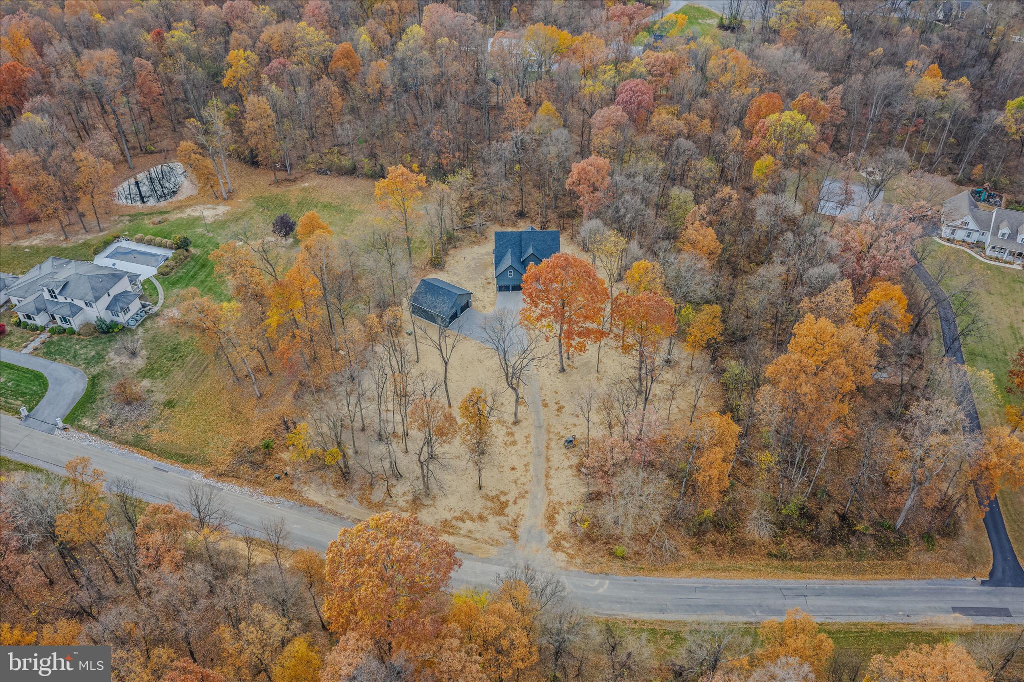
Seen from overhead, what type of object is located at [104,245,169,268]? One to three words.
swimming pool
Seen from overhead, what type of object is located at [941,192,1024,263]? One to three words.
house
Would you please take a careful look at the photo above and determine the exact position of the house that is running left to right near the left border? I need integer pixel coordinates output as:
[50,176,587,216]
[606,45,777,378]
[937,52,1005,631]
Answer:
[0,257,150,329]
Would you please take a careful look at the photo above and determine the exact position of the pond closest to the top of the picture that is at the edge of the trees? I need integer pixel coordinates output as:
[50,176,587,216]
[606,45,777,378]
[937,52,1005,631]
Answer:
[116,162,185,205]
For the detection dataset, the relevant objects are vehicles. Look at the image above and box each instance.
[563,435,581,450]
